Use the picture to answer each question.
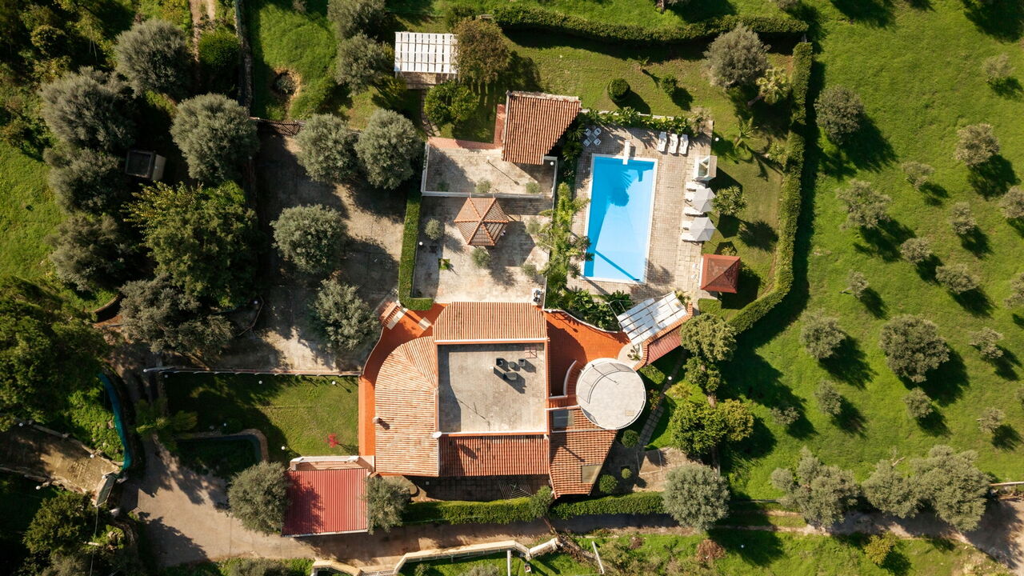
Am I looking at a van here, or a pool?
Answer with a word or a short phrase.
pool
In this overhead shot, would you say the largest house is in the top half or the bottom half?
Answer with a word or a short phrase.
bottom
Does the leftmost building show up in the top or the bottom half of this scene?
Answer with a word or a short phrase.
bottom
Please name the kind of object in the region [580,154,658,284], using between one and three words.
swimming pool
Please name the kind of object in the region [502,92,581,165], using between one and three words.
shed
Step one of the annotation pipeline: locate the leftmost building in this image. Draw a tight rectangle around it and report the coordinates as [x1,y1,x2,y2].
[281,467,371,537]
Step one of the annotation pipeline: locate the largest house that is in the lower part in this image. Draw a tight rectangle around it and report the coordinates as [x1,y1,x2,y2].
[374,302,646,497]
